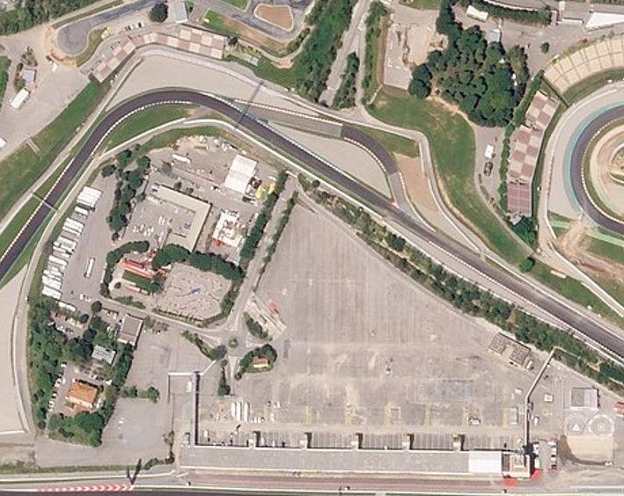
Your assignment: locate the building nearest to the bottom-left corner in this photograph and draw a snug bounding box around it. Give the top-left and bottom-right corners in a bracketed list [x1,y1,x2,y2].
[68,381,99,418]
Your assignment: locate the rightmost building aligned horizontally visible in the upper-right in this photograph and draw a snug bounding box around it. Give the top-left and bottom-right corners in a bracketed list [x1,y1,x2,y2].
[587,12,624,30]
